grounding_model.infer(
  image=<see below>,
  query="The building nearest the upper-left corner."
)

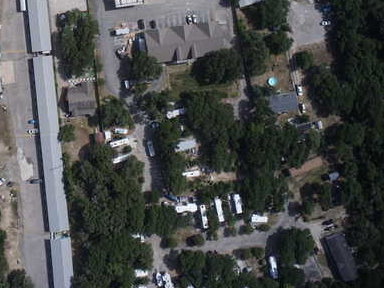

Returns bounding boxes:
[27,0,51,52]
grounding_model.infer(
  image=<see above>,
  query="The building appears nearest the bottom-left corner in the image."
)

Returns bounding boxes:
[50,234,75,288]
